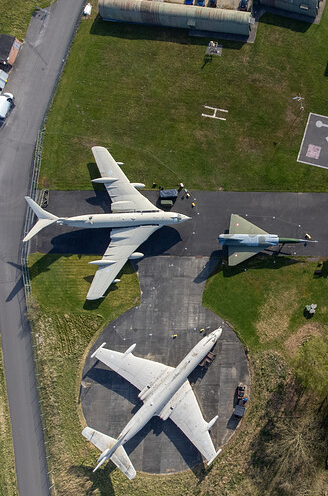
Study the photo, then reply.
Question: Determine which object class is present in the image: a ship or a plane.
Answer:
plane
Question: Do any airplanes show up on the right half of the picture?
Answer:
Yes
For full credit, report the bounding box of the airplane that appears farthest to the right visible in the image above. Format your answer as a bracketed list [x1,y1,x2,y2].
[215,215,311,267]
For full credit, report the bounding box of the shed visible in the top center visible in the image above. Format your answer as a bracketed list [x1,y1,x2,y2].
[98,0,253,35]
